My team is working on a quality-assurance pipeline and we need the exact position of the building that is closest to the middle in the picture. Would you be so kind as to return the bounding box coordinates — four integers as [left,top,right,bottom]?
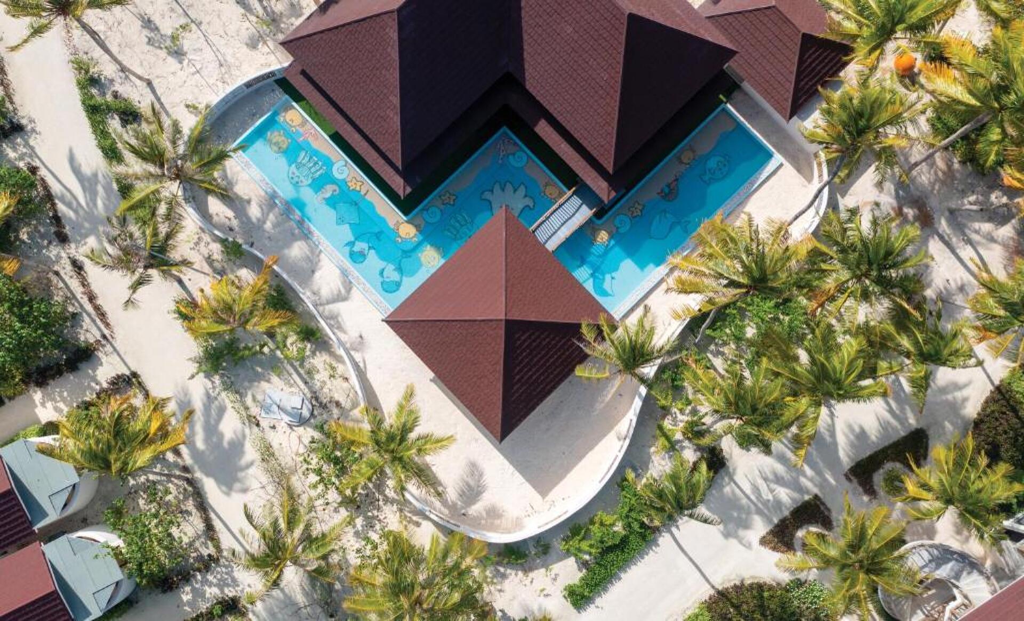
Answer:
[384,206,616,440]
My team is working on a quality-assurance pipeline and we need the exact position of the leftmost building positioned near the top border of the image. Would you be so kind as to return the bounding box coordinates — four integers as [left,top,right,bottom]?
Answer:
[276,0,740,208]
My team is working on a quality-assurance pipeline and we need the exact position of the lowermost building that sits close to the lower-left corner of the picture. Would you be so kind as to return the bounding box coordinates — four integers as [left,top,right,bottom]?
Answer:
[0,521,149,621]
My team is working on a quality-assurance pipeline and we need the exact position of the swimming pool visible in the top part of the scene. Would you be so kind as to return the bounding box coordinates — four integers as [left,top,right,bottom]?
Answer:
[234,98,782,323]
